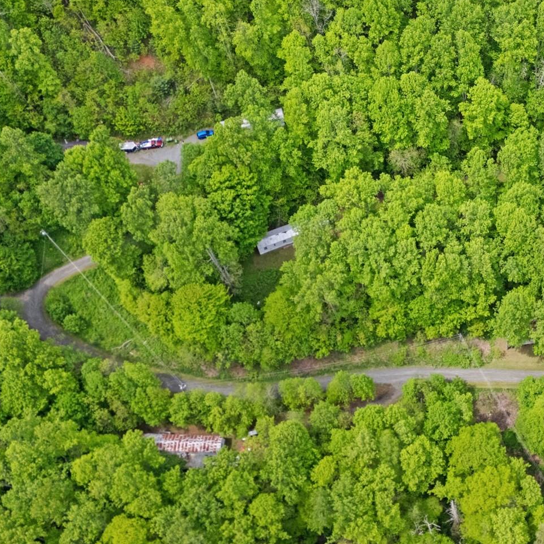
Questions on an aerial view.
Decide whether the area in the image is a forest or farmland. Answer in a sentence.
It's a forest.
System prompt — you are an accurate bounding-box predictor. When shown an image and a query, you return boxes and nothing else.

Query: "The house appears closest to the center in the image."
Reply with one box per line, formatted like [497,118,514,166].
[259,223,314,255]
